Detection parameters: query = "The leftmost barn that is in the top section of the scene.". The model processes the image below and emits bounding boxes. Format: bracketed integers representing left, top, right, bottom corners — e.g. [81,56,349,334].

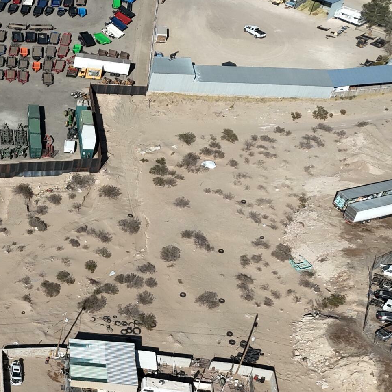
[148,56,199,97]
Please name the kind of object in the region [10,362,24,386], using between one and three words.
car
